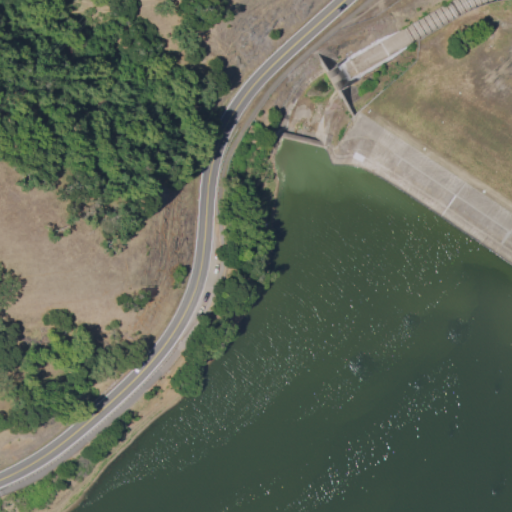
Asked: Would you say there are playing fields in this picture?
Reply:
No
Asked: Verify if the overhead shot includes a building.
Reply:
No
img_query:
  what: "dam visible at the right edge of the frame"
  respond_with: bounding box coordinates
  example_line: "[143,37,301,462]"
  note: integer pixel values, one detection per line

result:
[330,113,512,266]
